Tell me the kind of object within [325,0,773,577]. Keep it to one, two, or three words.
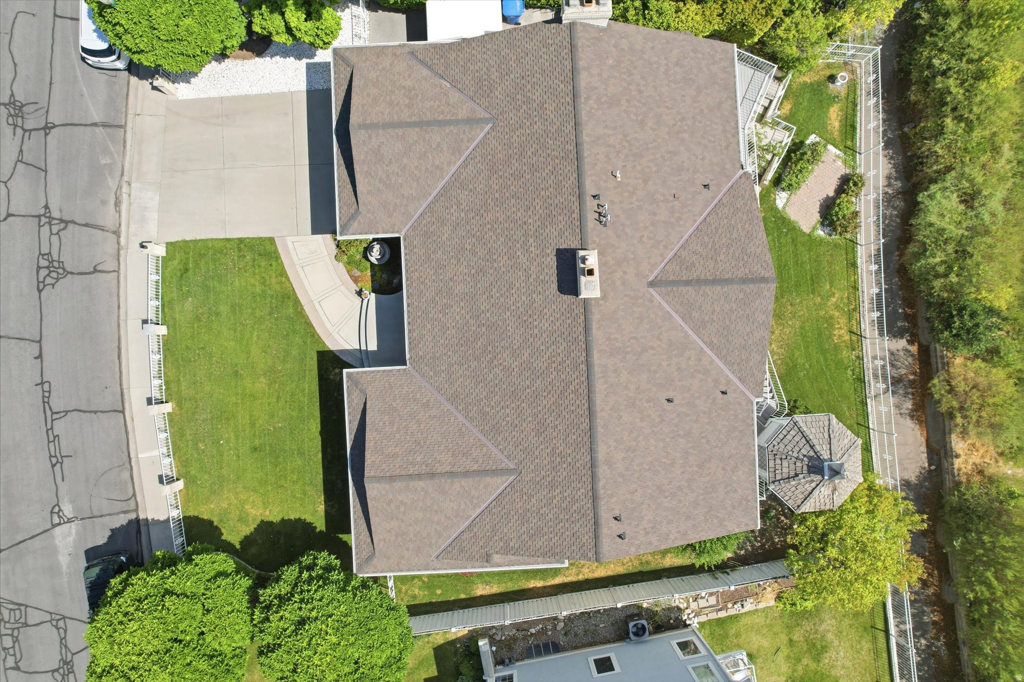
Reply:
house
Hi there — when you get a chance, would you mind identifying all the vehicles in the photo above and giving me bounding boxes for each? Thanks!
[80,0,139,70]
[83,545,137,649]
